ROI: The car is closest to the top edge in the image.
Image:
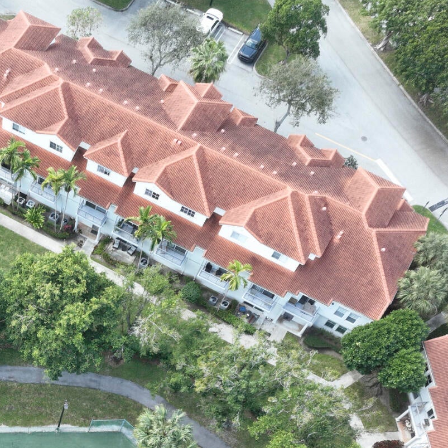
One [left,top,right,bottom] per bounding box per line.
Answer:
[198,4,224,36]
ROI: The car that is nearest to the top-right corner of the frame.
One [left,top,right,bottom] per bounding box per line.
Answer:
[241,24,268,60]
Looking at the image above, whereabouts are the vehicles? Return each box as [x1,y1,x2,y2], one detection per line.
[198,4,224,36]
[241,24,268,60]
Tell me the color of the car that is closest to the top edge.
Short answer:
white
